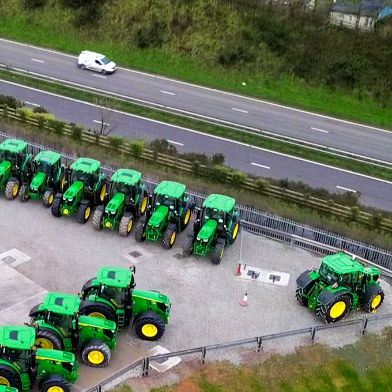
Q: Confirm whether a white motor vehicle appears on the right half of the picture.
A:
No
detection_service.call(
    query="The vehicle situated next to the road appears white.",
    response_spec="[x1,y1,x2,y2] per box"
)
[77,46,116,71]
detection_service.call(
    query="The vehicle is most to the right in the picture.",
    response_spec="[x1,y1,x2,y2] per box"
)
[294,256,382,323]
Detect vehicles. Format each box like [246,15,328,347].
[50,160,105,225]
[0,329,80,392]
[294,256,382,323]
[0,141,33,202]
[77,46,116,71]
[78,273,167,340]
[92,172,148,239]
[18,146,68,208]
[136,182,190,251]
[183,196,240,267]
[27,300,121,369]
